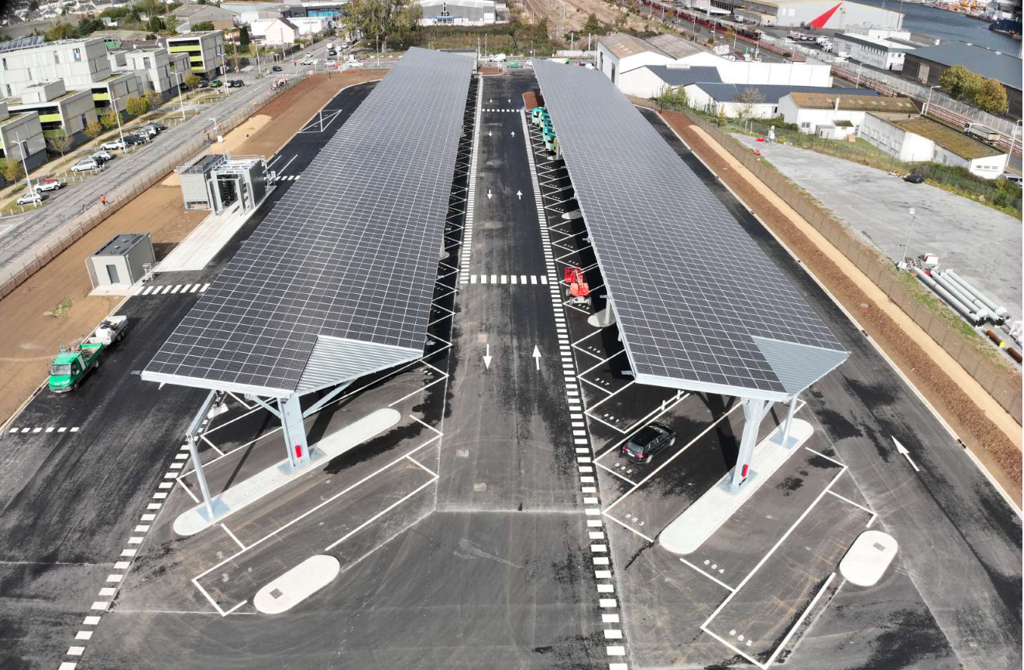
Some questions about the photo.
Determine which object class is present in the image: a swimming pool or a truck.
truck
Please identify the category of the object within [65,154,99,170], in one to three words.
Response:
car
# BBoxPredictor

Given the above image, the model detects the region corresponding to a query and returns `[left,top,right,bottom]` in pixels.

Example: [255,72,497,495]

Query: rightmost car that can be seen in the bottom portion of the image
[622,418,680,464]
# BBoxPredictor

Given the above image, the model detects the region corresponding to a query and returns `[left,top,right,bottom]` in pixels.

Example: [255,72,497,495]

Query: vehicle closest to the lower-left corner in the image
[48,333,111,383]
